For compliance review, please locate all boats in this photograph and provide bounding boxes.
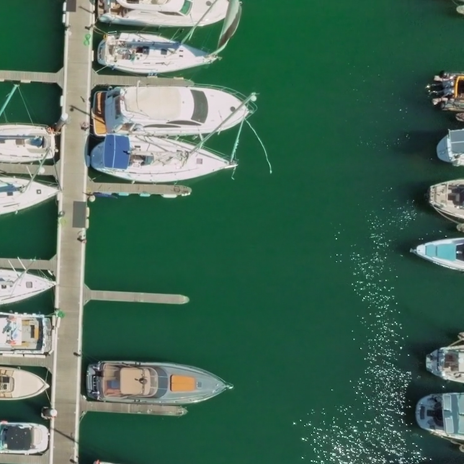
[0,264,57,306]
[0,420,48,455]
[83,364,240,406]
[422,181,464,219]
[422,76,464,110]
[412,241,464,271]
[0,159,60,215]
[87,112,269,185]
[0,85,55,166]
[421,348,464,385]
[431,128,464,165]
[91,79,262,137]
[94,0,247,76]
[0,310,49,355]
[93,0,233,28]
[411,394,464,442]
